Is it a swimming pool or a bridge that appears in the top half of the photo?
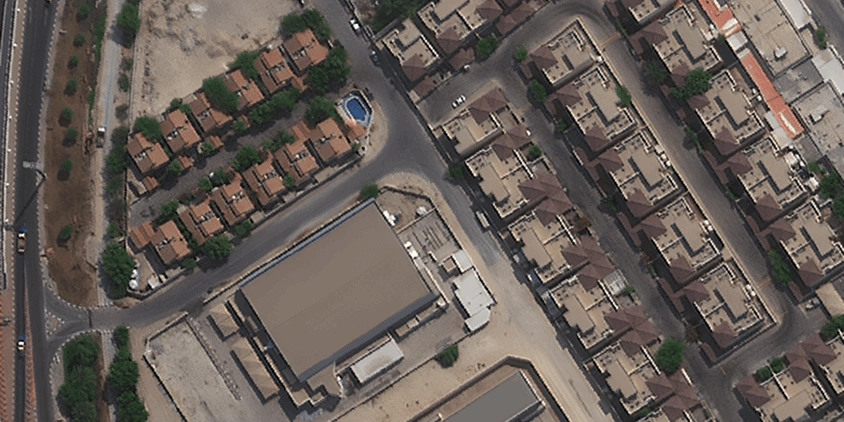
swimming pool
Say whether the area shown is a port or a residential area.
residential area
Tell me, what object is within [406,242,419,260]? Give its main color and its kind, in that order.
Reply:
white vehicle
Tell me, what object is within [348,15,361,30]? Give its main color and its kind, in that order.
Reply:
white vehicle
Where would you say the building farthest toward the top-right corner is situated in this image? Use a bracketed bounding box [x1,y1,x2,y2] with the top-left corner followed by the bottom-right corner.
[781,0,814,31]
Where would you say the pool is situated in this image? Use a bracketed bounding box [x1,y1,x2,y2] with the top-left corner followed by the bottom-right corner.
[342,92,372,128]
